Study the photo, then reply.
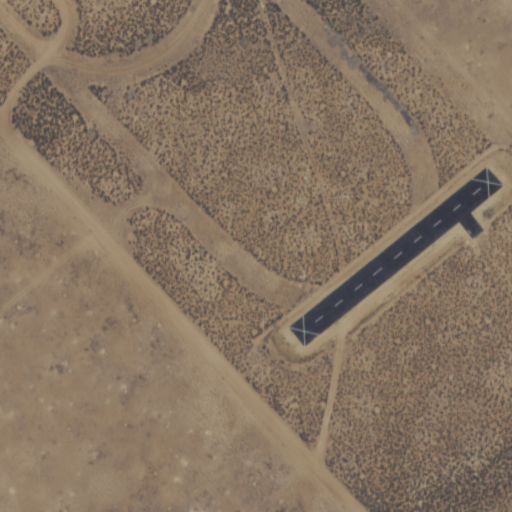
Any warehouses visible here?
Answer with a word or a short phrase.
No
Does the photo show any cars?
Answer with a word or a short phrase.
No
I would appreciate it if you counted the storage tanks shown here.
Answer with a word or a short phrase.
none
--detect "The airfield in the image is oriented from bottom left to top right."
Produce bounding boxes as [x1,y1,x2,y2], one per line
[268,145,512,360]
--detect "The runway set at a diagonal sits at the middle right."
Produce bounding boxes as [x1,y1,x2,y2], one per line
[290,168,502,346]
